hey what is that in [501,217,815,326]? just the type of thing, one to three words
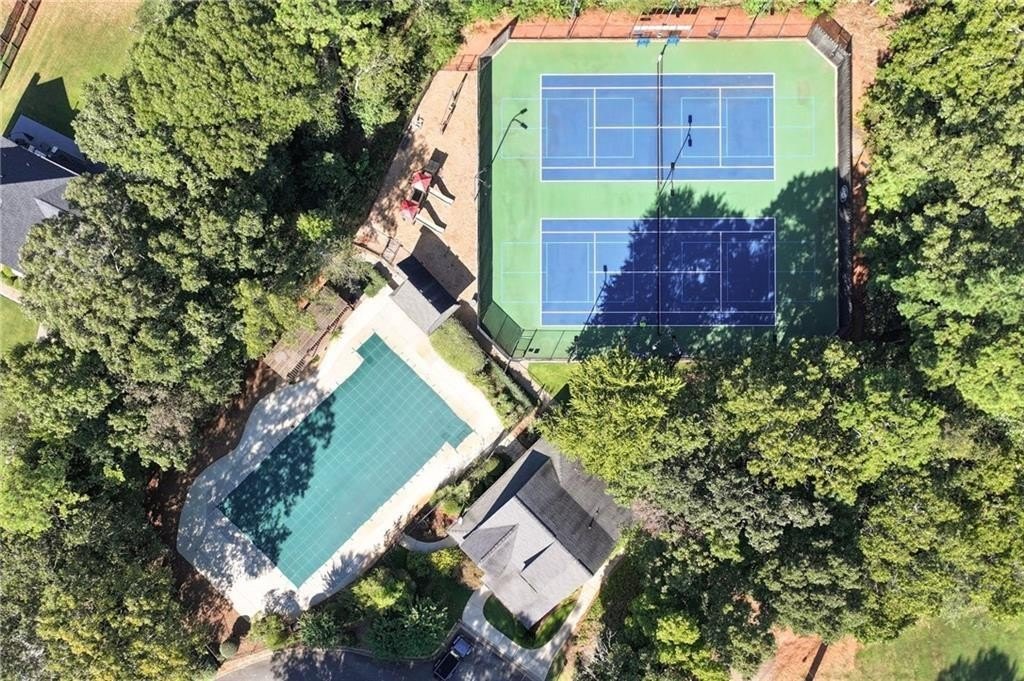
tennis court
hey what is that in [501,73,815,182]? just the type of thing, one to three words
tennis court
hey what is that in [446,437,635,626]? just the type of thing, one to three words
building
